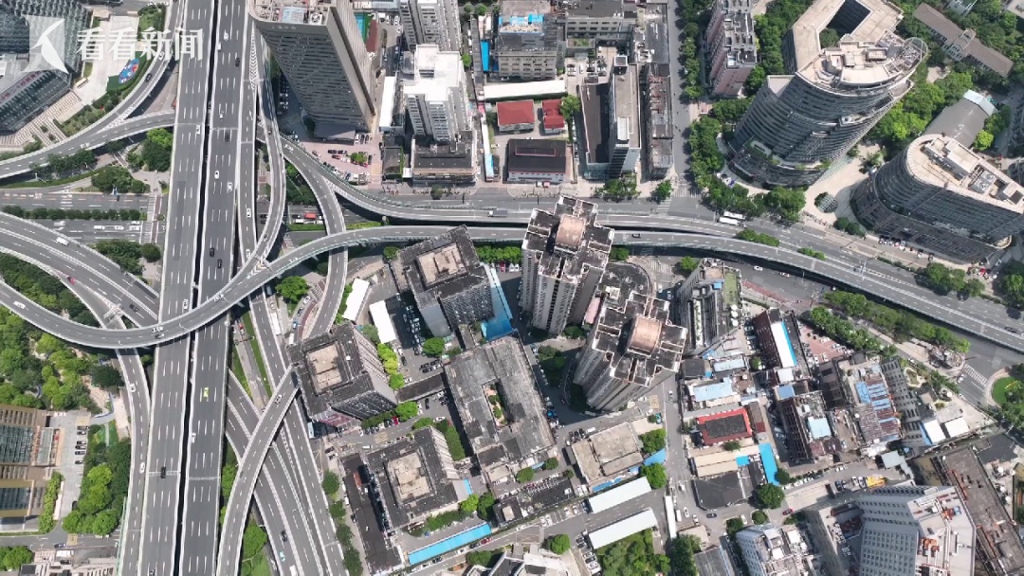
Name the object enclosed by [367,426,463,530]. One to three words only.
building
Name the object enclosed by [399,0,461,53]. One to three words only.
building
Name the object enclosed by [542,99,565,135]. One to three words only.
house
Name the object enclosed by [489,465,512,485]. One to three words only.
shed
